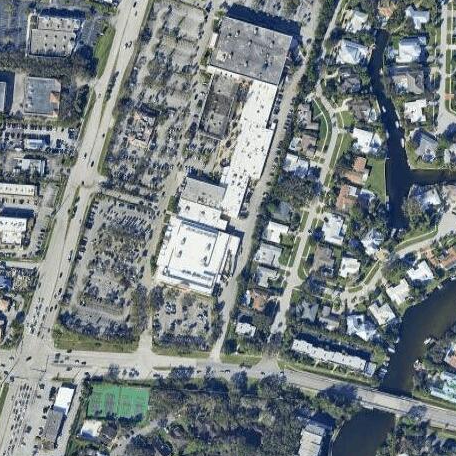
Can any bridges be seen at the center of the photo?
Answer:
No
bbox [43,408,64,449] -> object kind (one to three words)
building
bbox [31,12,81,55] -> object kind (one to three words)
building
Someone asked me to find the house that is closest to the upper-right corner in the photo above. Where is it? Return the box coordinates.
[401,4,429,28]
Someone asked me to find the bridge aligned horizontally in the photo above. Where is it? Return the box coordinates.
[370,389,421,419]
